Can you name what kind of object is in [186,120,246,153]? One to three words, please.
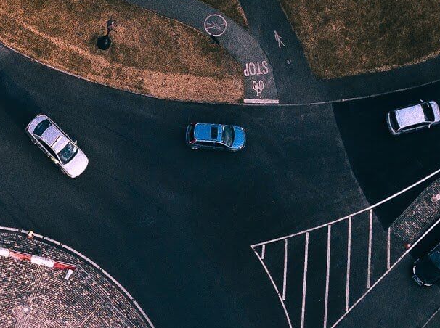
car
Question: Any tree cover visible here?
No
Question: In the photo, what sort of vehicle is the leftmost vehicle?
car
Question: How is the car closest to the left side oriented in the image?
diagonally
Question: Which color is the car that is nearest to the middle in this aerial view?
blue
